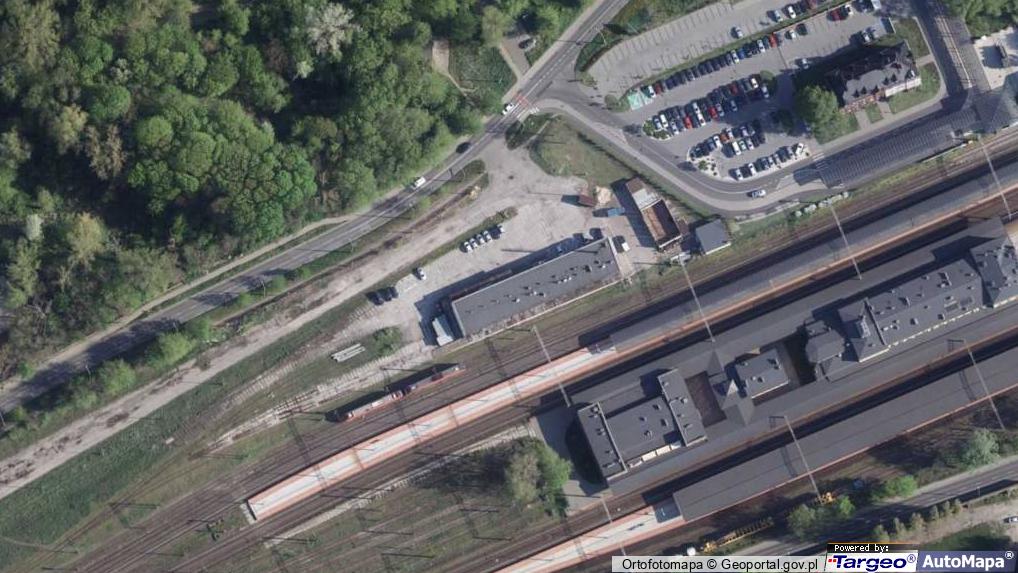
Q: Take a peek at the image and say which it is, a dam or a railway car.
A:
railway car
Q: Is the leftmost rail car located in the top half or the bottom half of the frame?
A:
bottom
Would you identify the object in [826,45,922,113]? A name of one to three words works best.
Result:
house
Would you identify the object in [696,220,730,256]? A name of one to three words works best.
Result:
shed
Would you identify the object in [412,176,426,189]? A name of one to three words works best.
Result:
vehicle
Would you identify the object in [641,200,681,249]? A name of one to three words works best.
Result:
building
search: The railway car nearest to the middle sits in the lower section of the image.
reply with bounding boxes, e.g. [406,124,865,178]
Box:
[404,362,468,395]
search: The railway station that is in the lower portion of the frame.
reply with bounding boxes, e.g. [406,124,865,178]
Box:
[247,162,1018,573]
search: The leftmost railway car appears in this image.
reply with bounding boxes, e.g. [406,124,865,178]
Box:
[343,389,406,423]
